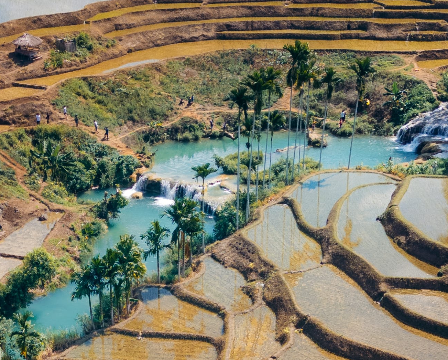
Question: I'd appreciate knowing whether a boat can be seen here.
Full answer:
No, I can see no boat in this picture.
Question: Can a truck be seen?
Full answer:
No, the frame has no truck in it.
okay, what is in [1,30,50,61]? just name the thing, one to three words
shed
